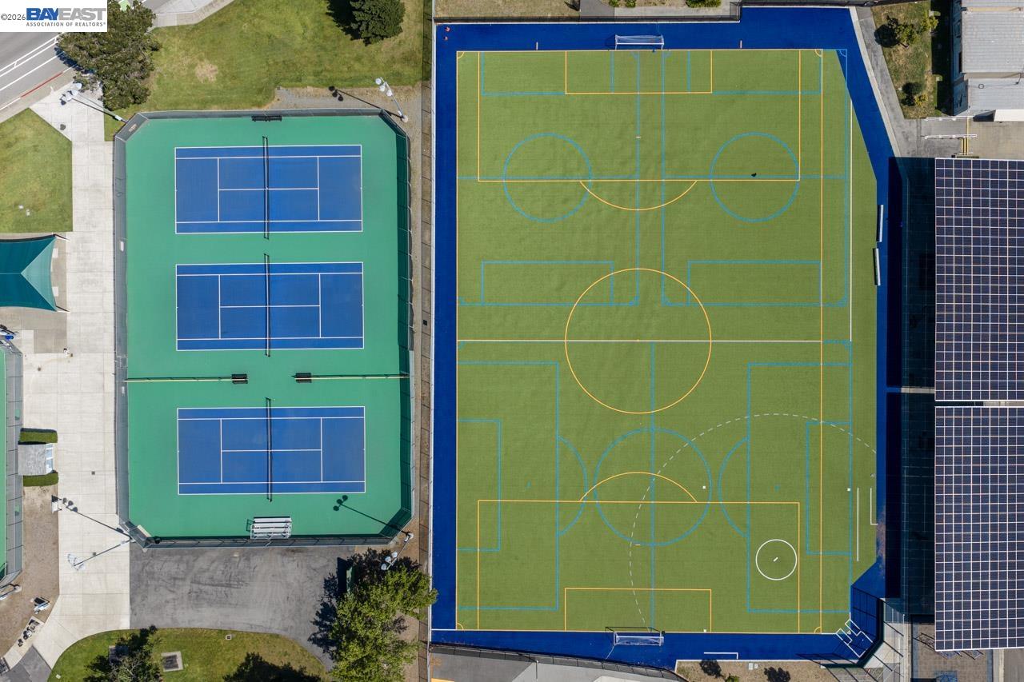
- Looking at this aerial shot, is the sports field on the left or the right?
right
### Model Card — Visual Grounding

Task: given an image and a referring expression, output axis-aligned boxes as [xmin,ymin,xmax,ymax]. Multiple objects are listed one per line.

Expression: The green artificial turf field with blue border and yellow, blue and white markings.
[433,7,901,671]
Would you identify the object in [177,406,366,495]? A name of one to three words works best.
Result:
tennis court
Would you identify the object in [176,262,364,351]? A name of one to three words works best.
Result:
tennis court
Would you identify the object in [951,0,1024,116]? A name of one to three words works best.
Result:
building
